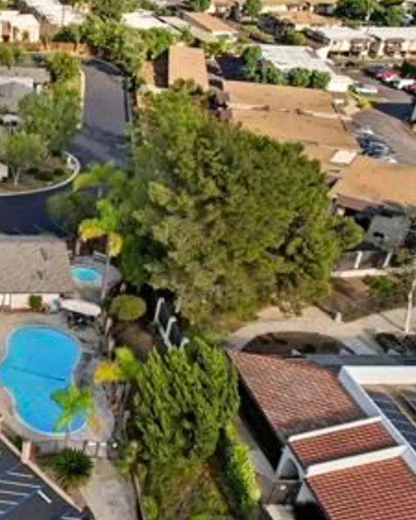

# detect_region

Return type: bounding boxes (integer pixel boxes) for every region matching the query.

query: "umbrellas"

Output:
[58,303,107,332]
